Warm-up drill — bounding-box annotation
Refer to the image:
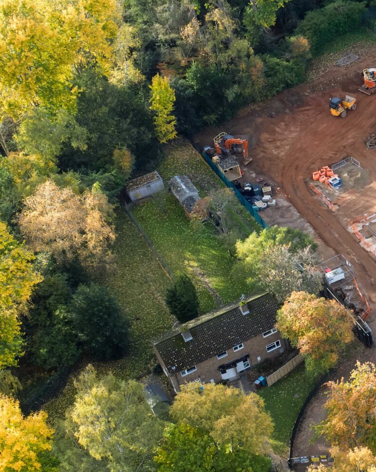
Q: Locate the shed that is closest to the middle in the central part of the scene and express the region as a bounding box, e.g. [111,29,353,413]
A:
[164,173,202,214]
